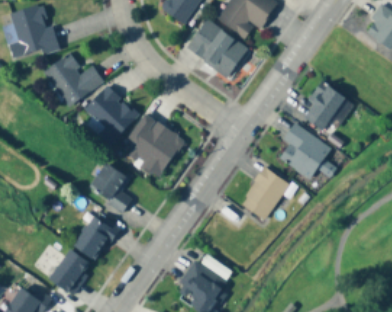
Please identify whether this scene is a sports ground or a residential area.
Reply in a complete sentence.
The picture captures a residential area.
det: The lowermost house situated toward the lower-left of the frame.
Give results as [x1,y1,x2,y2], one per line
[6,288,48,312]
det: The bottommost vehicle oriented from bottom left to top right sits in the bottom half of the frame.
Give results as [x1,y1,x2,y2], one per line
[113,281,126,297]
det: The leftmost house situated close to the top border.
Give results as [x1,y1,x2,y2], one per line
[10,4,61,58]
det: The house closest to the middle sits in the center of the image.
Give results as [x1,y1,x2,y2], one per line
[128,115,187,177]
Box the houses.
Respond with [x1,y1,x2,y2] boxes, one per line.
[90,162,135,215]
[10,4,61,58]
[242,167,290,220]
[49,249,89,292]
[44,52,102,104]
[74,213,118,260]
[306,82,346,126]
[128,115,187,177]
[277,124,332,178]
[6,288,48,312]
[83,84,139,133]
[164,0,202,25]
[368,3,392,46]
[179,258,222,312]
[188,18,249,76]
[216,0,278,36]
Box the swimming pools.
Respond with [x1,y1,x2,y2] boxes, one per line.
[274,208,286,222]
[74,196,88,209]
